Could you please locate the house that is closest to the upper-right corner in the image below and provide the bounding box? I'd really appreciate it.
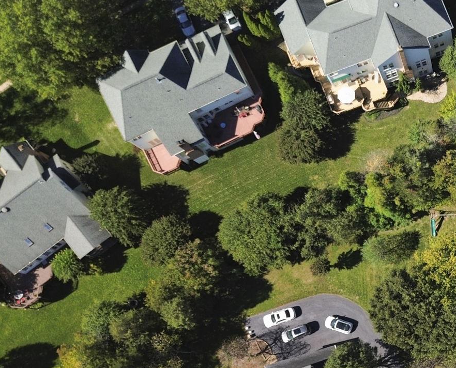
[274,0,454,120]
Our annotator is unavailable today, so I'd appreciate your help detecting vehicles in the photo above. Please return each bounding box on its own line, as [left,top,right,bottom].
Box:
[222,4,244,35]
[263,307,298,326]
[281,324,313,342]
[180,6,196,37]
[324,315,356,335]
